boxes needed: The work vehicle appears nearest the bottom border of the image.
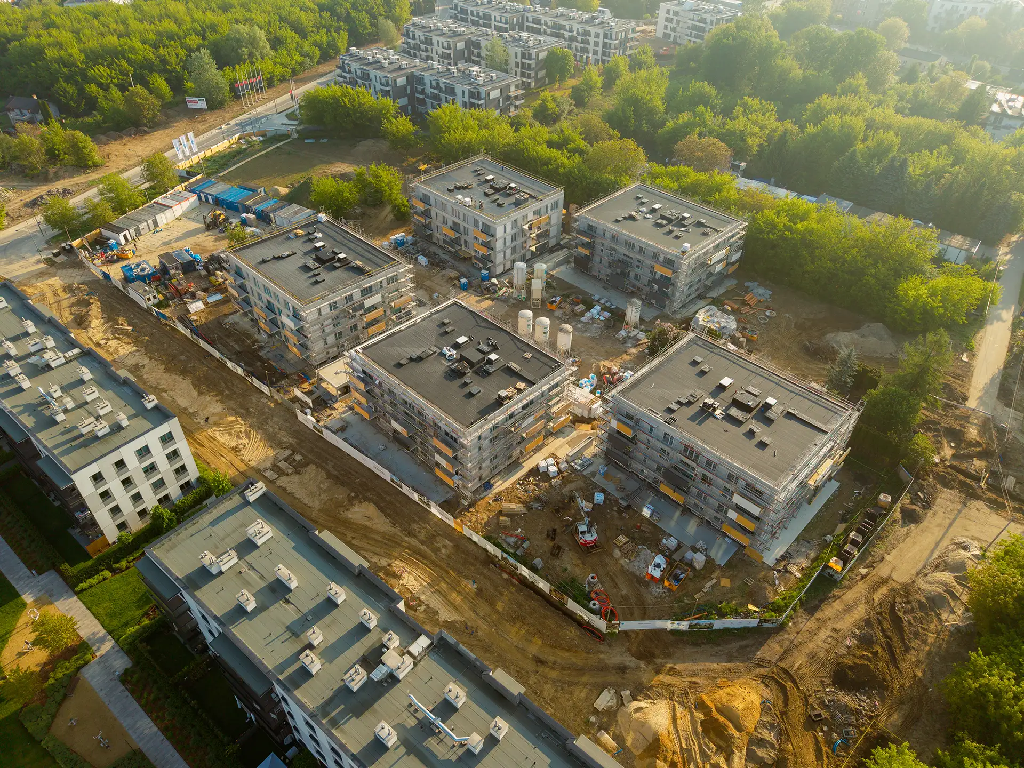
[568,495,606,560]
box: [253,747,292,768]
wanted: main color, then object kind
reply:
blue gazebo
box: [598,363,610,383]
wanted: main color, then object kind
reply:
red vehicle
